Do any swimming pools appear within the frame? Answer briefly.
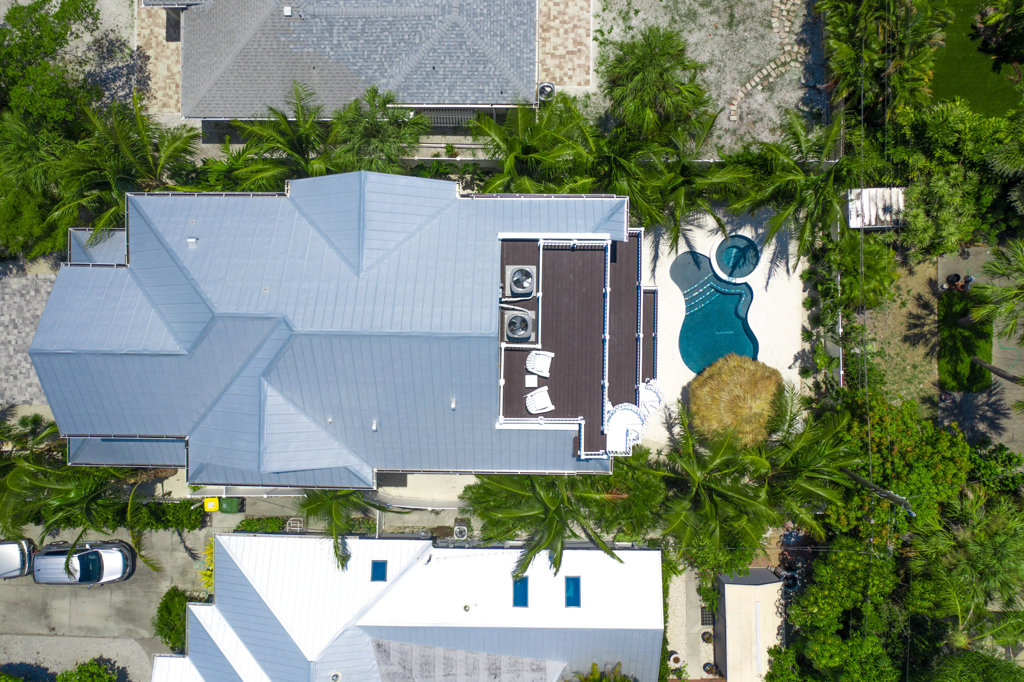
Yes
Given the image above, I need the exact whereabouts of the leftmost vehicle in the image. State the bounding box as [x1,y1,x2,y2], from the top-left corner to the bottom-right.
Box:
[0,534,34,579]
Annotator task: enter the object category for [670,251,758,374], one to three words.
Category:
swimming pool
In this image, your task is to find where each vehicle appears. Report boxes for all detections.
[27,539,136,592]
[0,534,34,579]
